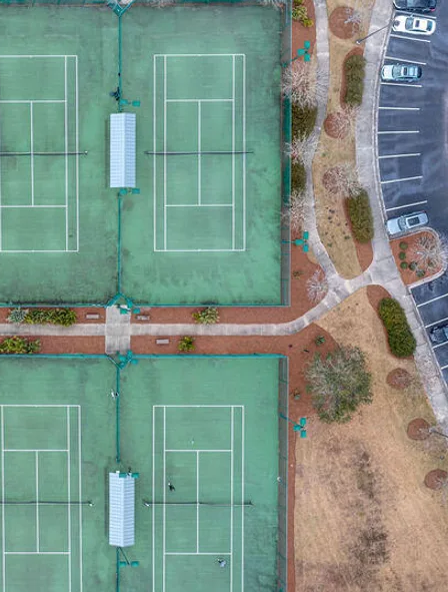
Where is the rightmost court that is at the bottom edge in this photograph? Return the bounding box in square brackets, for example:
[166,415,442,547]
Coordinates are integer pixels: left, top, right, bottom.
[117,356,279,592]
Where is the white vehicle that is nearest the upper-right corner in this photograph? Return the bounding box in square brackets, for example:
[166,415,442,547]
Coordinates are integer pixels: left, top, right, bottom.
[389,15,434,37]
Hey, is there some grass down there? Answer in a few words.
Yes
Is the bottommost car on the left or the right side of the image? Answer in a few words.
right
